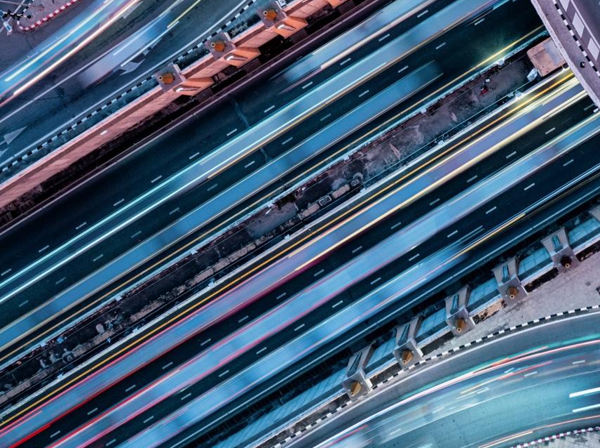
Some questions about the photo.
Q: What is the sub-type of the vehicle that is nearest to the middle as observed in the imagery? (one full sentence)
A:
Specifically, the vehicle that is nearest to the middle is a car.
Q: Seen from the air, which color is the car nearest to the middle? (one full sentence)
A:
The car nearest to the middle looks blue in the image.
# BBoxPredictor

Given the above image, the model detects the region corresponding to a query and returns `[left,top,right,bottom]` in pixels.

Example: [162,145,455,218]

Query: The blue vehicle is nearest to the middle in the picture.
[258,245,319,293]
